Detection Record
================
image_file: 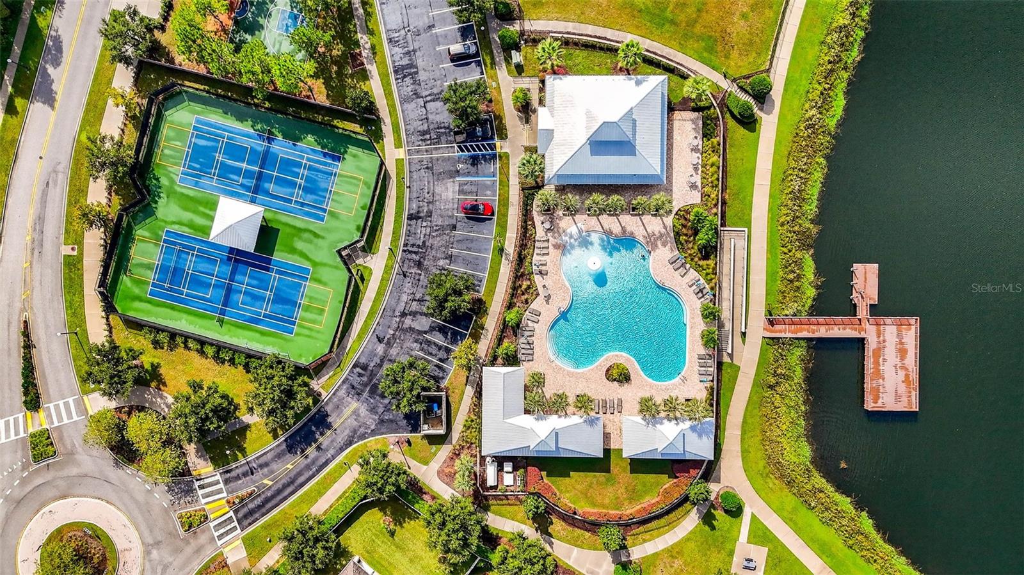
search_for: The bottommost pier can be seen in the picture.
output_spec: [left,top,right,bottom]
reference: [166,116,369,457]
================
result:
[763,317,920,409]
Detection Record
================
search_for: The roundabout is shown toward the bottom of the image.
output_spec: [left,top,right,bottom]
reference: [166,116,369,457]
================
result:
[14,495,145,575]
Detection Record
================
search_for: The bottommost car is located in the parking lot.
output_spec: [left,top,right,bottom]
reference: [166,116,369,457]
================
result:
[462,202,493,216]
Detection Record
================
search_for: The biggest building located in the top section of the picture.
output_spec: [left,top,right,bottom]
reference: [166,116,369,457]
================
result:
[538,75,667,185]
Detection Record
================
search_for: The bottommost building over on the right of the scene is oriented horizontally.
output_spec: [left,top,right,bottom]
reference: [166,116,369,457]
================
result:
[623,416,714,460]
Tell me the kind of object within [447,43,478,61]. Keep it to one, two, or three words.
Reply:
car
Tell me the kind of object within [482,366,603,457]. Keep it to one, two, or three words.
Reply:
building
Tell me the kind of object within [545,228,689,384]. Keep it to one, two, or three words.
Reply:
swimming pool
